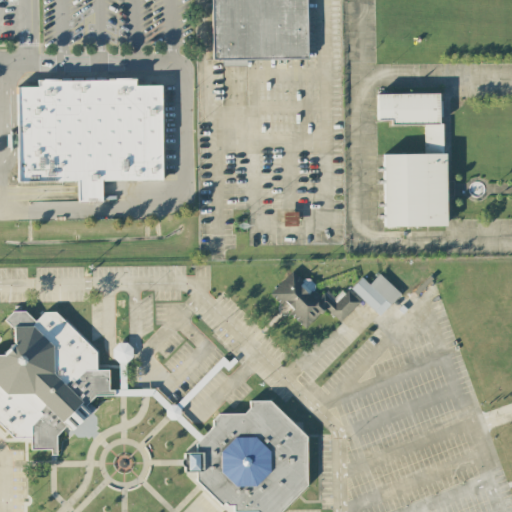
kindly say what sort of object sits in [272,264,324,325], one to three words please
house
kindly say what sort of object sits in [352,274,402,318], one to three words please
barn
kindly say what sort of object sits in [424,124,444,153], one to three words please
building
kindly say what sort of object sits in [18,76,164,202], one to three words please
building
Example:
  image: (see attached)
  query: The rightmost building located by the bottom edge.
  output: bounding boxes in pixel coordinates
[199,400,308,512]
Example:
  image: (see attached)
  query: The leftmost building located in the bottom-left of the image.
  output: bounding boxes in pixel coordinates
[0,311,110,455]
